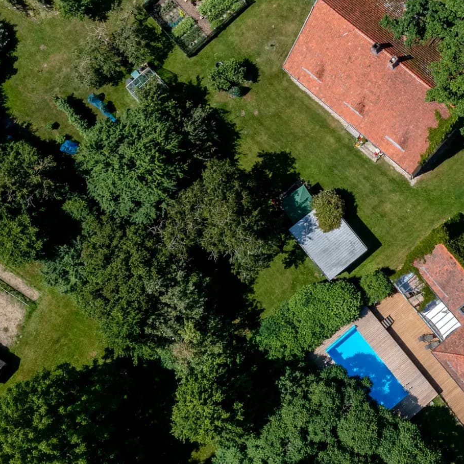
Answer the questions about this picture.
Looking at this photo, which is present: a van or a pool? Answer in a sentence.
Of the two, only a pool appears.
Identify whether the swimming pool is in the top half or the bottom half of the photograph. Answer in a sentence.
The swimming pool is in the bottom half of the image.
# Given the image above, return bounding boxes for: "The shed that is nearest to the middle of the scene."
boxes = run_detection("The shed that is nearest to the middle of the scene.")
[289,202,367,276]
